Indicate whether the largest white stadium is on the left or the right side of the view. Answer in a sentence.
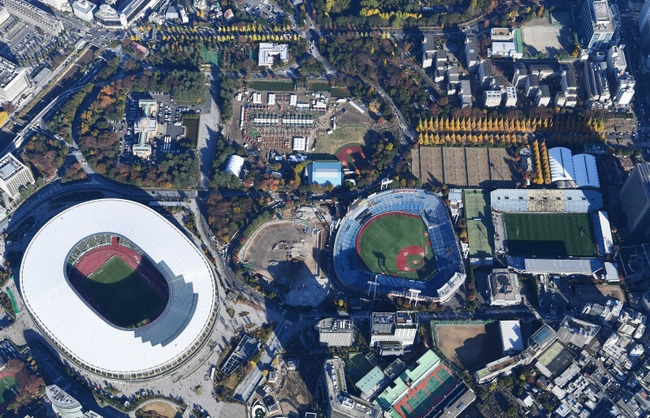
It is on the left.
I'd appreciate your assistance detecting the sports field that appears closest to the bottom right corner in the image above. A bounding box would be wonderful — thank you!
[501,212,597,258]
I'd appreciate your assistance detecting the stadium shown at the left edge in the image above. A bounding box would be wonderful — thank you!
[19,197,221,386]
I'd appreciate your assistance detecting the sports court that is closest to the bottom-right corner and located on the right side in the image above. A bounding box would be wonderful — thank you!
[538,338,579,377]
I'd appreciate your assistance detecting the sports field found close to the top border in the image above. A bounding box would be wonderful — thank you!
[490,20,576,60]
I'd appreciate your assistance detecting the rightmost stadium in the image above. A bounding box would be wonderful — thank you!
[490,189,613,279]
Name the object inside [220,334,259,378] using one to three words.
building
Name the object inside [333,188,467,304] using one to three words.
stadium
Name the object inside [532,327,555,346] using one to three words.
swimming pool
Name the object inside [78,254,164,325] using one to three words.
sports field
